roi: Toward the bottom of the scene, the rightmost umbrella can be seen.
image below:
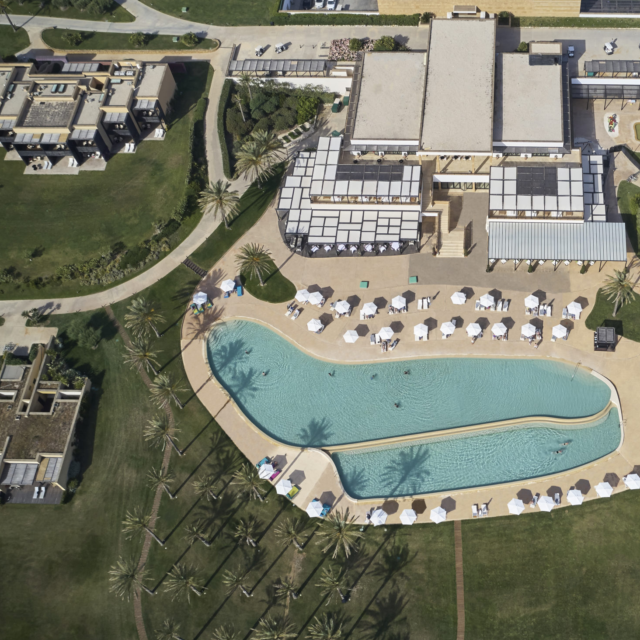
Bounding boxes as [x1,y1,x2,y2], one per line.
[625,474,640,491]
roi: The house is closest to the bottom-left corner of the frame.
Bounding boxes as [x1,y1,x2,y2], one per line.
[0,335,97,493]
